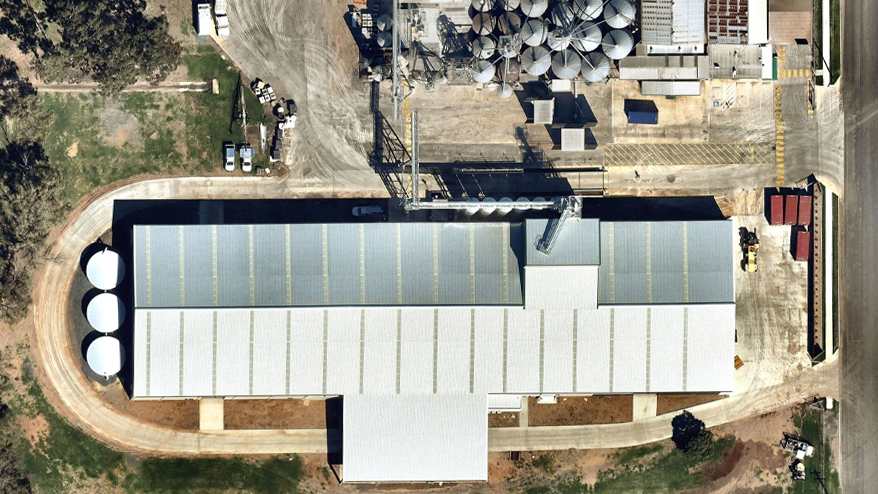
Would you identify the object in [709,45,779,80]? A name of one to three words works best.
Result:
building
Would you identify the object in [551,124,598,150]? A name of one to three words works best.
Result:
shed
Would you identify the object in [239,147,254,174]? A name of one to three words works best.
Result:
vehicle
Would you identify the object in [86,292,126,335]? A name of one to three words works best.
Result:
water tank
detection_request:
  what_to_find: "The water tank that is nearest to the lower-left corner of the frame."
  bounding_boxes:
[86,335,126,381]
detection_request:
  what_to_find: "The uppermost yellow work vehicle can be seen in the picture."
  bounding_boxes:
[744,228,760,273]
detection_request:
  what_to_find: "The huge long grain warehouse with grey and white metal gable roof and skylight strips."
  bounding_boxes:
[132,220,736,403]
